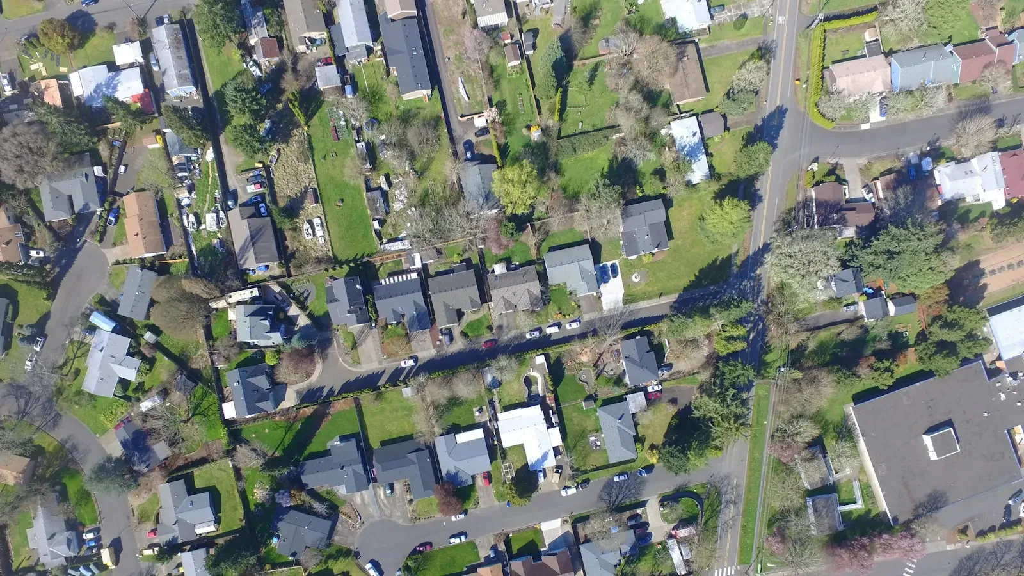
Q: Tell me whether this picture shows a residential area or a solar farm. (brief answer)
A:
residential area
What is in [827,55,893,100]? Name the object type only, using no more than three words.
house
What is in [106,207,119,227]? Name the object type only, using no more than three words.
vehicle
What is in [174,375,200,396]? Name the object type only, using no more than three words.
shed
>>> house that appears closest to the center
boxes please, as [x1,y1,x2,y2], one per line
[487,263,545,315]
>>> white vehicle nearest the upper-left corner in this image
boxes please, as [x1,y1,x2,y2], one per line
[1,74,13,93]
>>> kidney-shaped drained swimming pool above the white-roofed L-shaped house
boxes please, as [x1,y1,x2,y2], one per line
[523,371,542,405]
